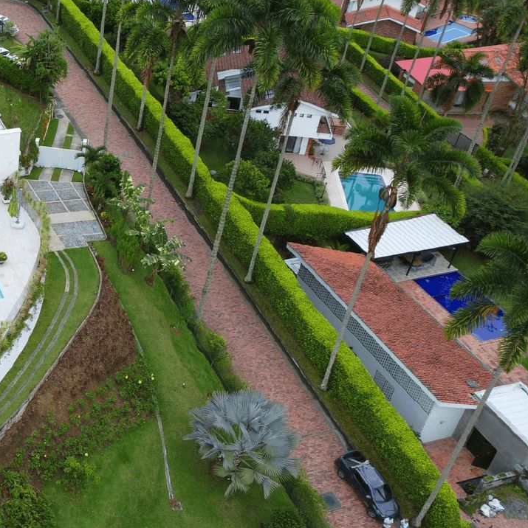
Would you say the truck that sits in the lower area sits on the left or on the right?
right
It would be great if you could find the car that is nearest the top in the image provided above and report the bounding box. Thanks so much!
[0,12,25,40]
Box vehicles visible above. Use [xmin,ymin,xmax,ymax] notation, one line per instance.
[0,40,23,68]
[333,443,407,527]
[0,12,25,40]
